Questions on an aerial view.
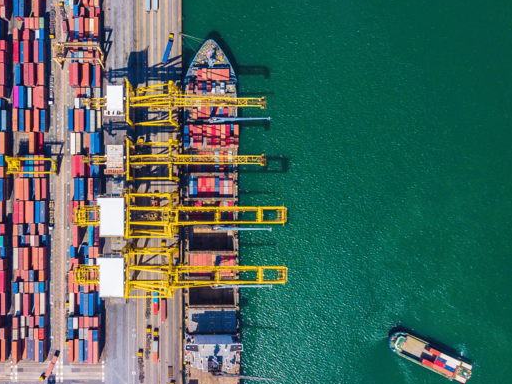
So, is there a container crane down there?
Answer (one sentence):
Yes, there is a container crane in the image.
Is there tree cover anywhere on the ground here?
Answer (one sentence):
No, no tree cover is visible.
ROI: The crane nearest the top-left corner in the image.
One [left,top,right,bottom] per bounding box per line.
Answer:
[52,43,105,70]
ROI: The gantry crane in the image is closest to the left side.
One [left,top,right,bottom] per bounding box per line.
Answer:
[4,155,59,177]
